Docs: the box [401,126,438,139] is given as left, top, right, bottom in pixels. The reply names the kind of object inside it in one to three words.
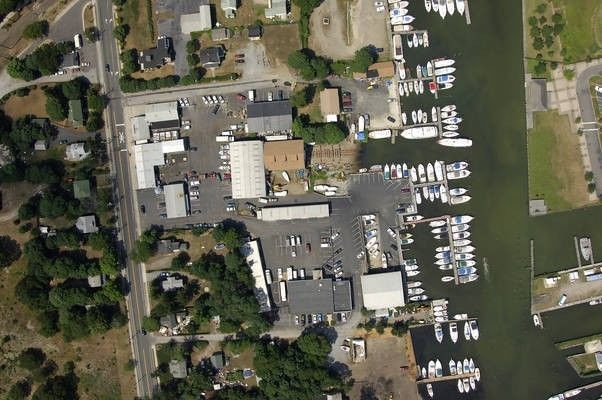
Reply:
boat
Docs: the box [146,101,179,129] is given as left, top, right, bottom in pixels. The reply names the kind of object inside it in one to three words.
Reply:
building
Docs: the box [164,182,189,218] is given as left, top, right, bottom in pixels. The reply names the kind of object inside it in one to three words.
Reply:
shed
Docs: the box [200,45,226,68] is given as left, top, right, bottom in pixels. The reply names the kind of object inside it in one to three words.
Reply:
house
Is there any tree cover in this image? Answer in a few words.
Yes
